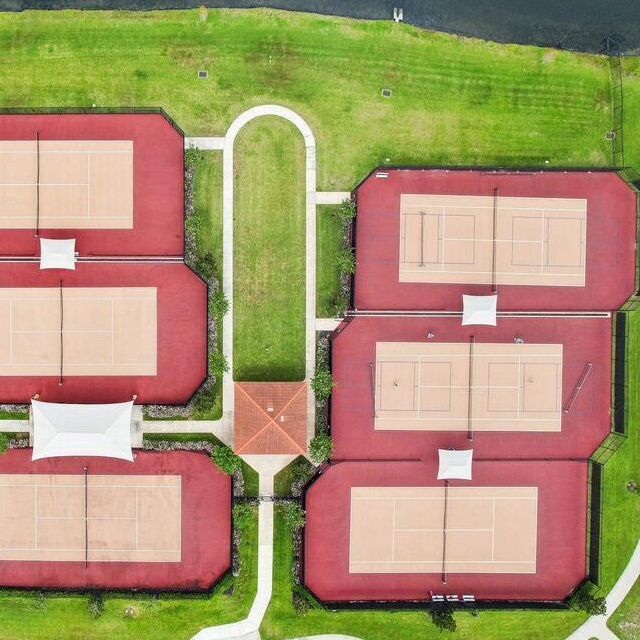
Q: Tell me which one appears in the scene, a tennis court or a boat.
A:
tennis court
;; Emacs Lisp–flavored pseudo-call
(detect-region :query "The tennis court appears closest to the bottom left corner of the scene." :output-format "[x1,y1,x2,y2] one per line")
[0,449,232,589]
